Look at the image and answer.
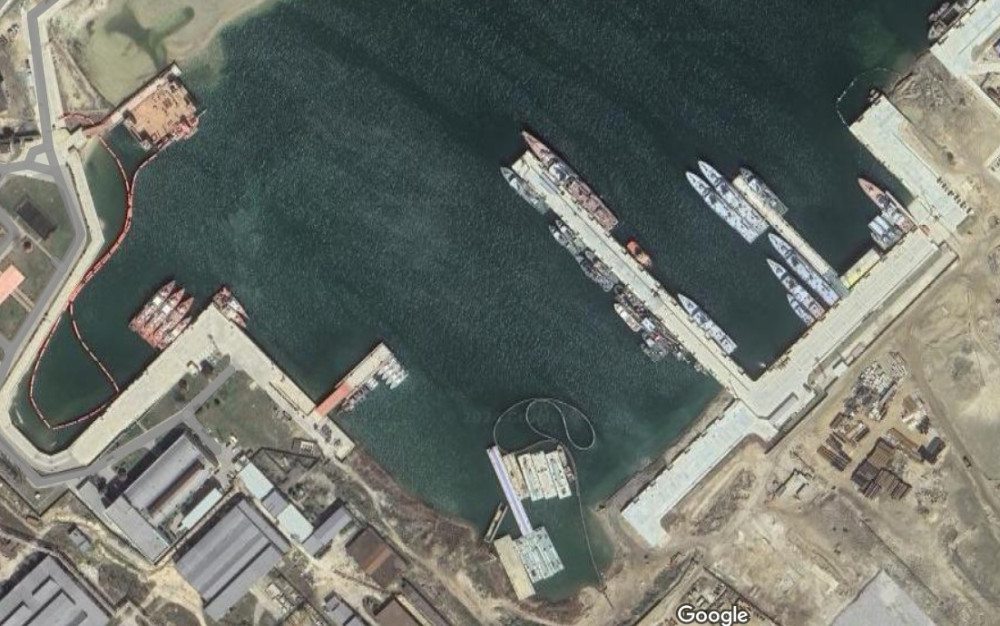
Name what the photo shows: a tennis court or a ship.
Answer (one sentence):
The image shows a ship.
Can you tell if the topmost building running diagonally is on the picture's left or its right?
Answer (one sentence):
The topmost building running diagonally appears in the left half of the scene.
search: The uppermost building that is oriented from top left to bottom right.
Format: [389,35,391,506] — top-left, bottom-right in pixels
[16,198,56,239]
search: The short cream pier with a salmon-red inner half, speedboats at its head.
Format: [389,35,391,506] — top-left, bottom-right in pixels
[315,344,392,417]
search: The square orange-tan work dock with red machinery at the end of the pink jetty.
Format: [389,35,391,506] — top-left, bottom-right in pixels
[82,66,207,170]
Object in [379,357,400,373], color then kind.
white boat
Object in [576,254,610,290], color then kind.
gray boat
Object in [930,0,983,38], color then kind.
gray ship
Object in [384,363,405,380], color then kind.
white boat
